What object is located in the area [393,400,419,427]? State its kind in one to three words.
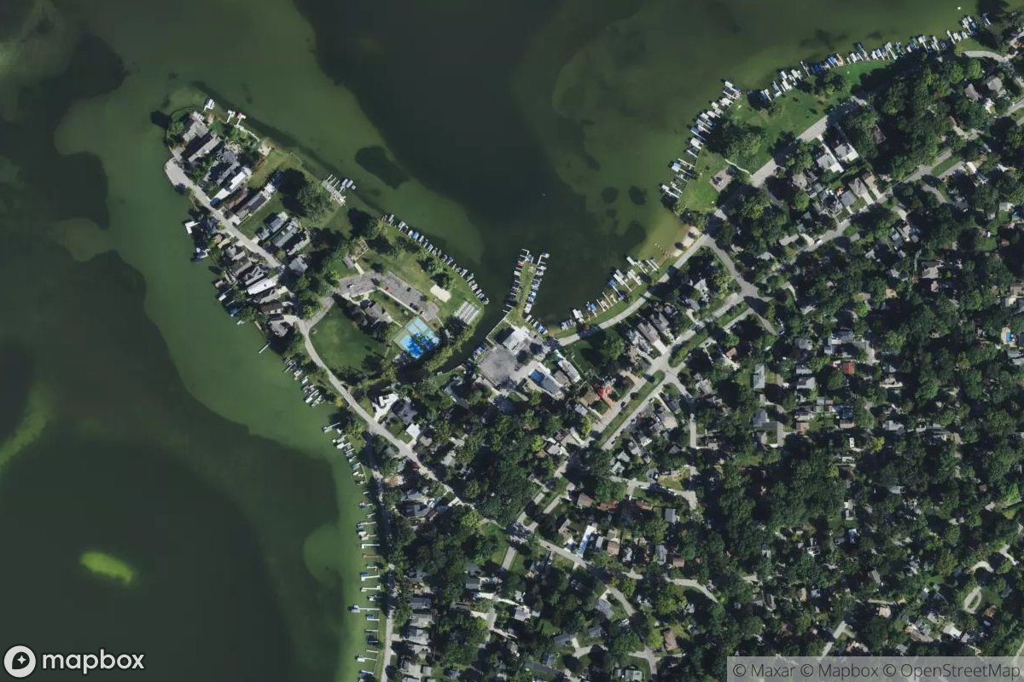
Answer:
house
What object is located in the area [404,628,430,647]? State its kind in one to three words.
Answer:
house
